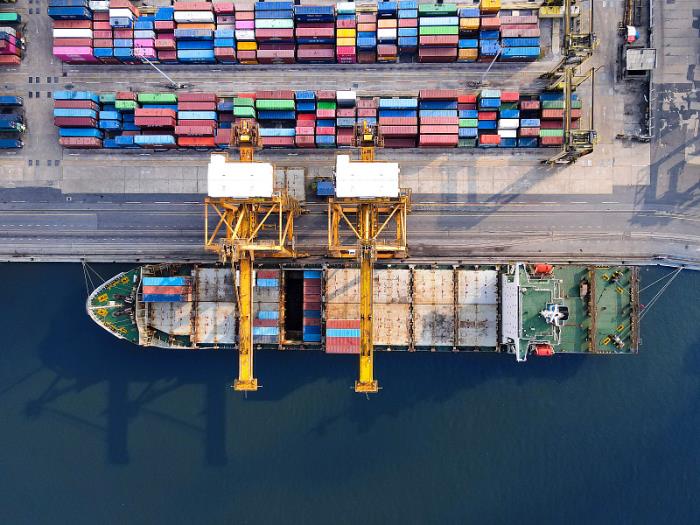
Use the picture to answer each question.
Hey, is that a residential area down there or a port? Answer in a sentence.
This image shows a port.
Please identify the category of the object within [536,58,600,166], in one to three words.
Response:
crane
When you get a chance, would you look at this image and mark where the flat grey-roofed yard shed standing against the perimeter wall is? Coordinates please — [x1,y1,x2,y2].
[620,46,657,81]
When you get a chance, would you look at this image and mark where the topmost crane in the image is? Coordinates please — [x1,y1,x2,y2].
[536,0,601,76]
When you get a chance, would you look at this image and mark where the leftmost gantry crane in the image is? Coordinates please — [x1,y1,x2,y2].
[205,117,307,401]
